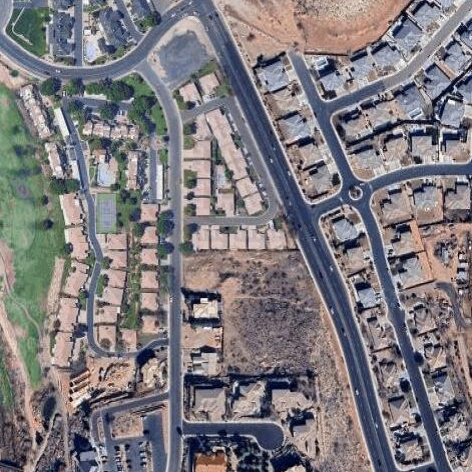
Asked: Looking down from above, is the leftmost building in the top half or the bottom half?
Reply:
top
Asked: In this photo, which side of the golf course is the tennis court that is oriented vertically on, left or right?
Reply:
right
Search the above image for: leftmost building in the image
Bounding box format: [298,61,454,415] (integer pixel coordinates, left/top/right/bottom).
[19,84,52,140]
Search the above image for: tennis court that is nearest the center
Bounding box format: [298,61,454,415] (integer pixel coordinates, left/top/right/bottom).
[97,191,117,234]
